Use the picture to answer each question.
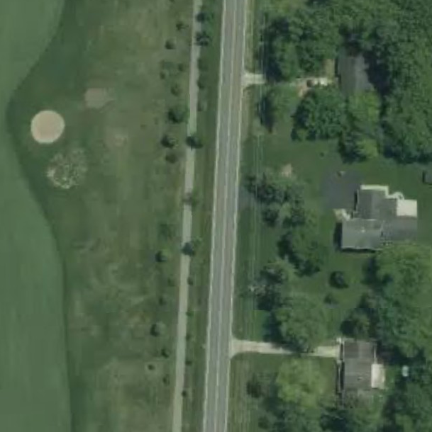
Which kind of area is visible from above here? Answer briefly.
golf course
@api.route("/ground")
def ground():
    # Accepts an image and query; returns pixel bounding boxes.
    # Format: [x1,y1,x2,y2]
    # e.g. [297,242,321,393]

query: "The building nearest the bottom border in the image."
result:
[342,341,377,392]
